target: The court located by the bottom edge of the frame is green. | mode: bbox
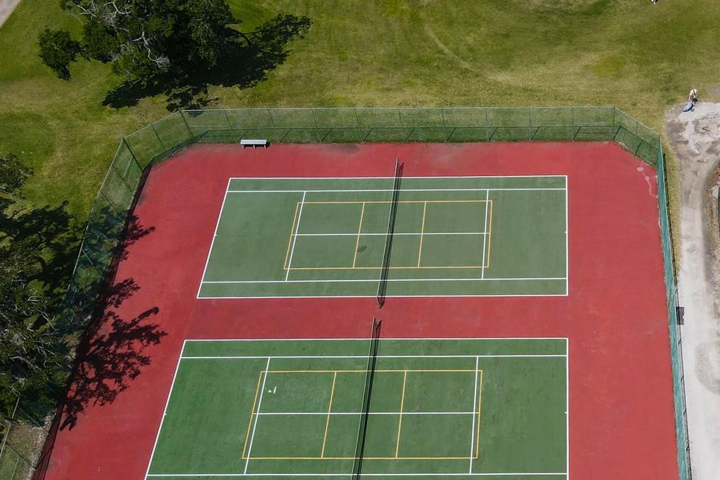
[145,337,569,480]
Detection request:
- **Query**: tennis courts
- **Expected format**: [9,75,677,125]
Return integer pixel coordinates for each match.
[197,175,569,298]
[145,337,569,480]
